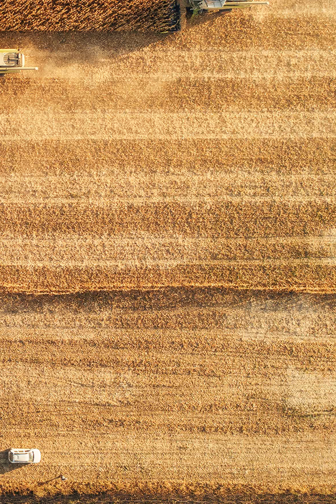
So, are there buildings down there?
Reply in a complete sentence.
No, I can see no building in this picture.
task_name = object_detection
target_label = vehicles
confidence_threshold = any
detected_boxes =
[159,0,269,33]
[0,46,38,75]
[8,448,40,464]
